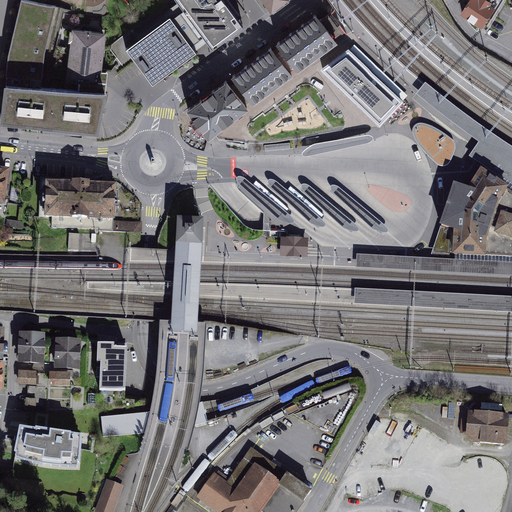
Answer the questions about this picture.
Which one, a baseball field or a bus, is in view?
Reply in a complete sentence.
The image shows a bus.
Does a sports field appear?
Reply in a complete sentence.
No, the photo shows no sports field.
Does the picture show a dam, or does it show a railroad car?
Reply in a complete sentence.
This aerial view contains a railroad car.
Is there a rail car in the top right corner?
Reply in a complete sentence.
No, I can find no rail car in the top right corner.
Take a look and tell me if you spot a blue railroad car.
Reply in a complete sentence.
Yes, there is a blue railroad car in the image.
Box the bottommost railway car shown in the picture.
[170,491,185,508]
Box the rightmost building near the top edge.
[460,0,500,28]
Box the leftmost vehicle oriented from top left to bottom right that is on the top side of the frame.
[252,178,292,212]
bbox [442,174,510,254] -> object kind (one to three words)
building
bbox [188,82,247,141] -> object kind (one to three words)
house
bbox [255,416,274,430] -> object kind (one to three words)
rail car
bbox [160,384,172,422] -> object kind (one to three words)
rail car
